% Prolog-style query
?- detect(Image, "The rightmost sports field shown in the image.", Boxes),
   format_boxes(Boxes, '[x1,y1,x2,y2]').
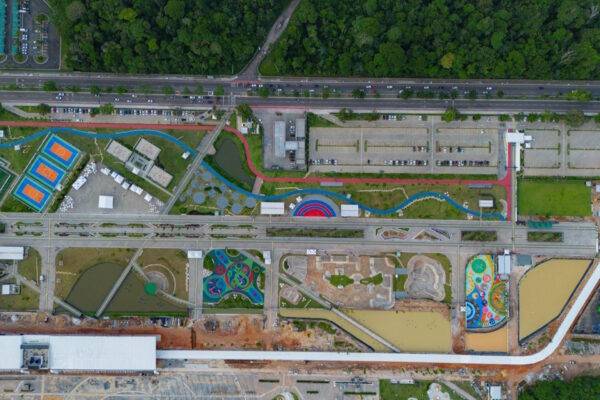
[517,180,593,217]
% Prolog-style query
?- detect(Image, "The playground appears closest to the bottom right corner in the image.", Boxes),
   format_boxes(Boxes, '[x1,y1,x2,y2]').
[466,254,508,329]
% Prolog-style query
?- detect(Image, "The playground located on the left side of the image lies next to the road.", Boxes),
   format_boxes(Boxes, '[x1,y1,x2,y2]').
[203,249,266,314]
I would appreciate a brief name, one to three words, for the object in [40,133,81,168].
sports court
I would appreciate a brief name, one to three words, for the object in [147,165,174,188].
building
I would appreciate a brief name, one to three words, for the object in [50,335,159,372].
building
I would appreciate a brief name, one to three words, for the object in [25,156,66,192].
sports court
